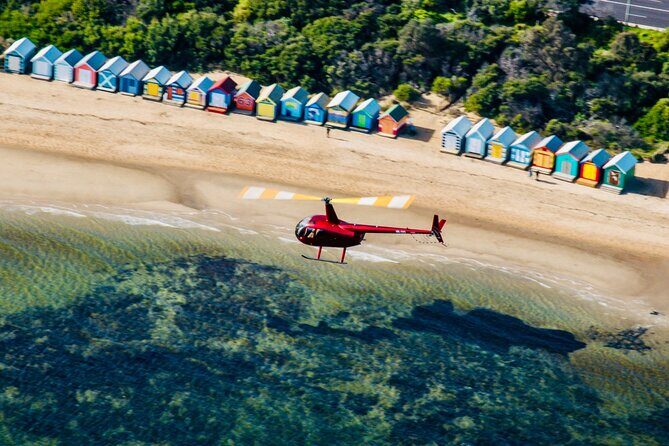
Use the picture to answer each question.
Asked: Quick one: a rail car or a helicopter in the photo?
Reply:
helicopter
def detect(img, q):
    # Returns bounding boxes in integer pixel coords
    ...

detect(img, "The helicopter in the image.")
[245,191,447,262]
